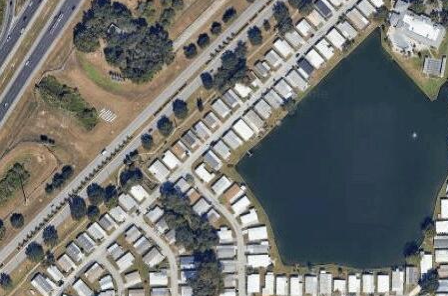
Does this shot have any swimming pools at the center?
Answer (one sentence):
No, looking at the center, there is no swimming pool.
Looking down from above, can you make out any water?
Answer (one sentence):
Yes, water can be seen from above here.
